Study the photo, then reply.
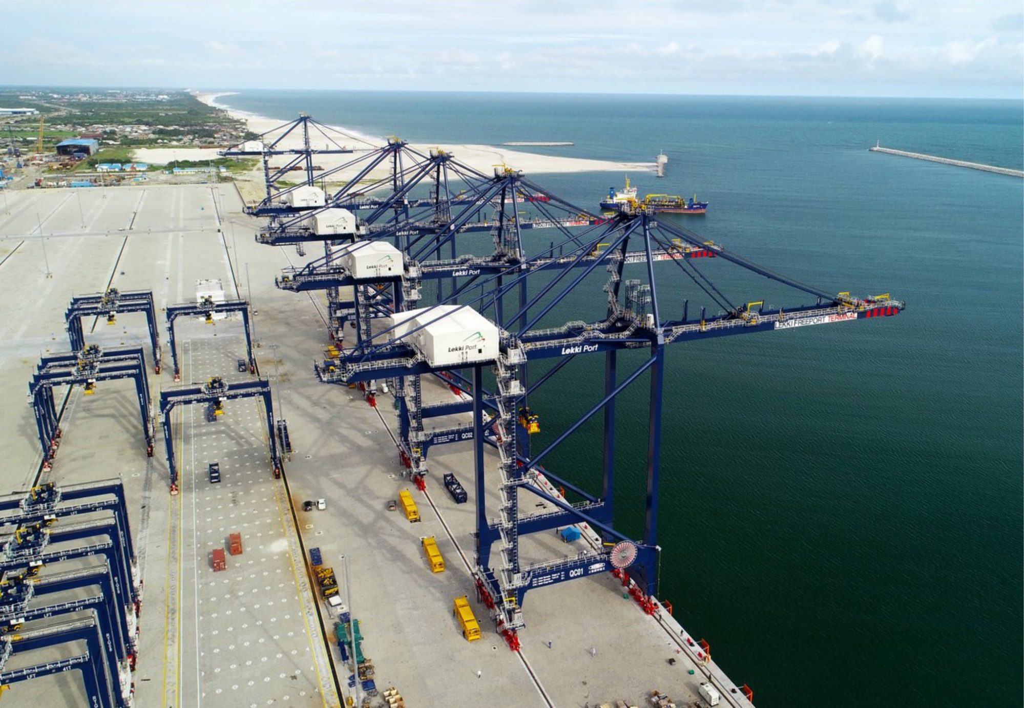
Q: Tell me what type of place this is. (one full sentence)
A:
The area seen from above is a port.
